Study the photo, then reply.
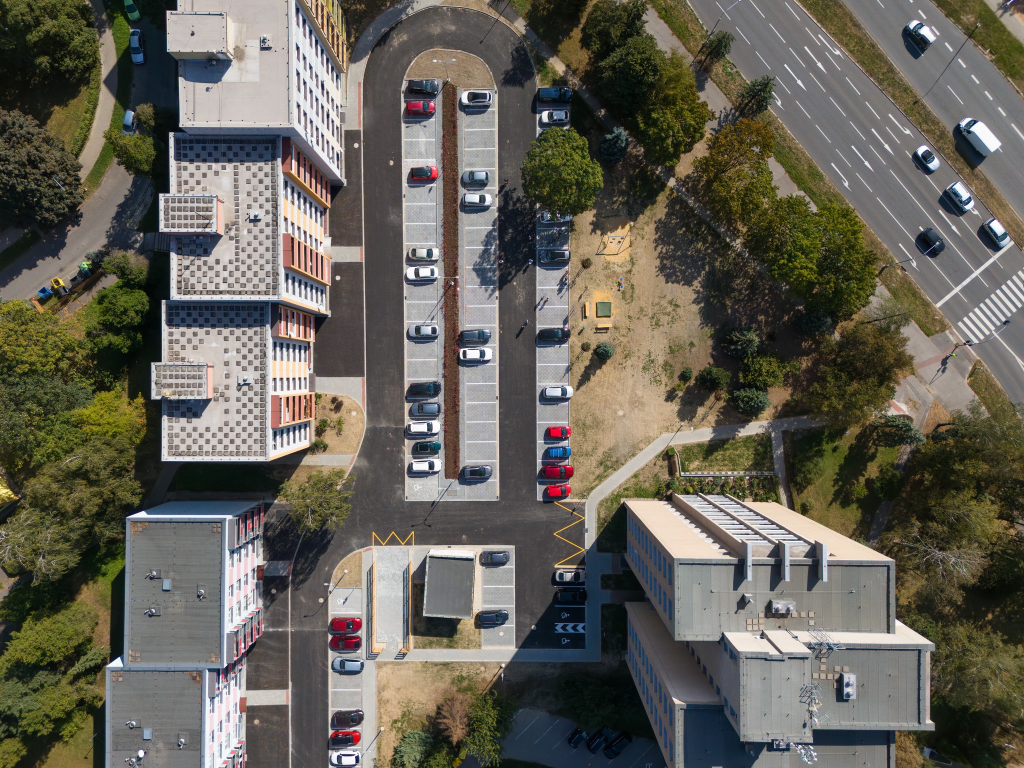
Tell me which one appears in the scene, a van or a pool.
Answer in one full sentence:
There is a van in the scene.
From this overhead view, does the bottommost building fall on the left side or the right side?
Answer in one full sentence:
It is on the left.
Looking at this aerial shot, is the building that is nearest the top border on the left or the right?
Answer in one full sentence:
It is on the left.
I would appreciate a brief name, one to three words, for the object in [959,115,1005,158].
van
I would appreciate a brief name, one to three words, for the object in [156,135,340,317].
building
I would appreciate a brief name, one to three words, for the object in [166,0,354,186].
building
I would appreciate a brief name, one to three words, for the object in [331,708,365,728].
car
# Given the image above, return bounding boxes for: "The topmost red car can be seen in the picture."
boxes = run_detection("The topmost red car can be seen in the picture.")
[405,98,436,117]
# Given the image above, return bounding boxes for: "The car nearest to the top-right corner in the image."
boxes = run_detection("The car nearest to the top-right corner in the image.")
[904,18,938,51]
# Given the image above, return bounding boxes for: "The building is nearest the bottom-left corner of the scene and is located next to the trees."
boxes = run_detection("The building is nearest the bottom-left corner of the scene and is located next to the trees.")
[102,650,248,768]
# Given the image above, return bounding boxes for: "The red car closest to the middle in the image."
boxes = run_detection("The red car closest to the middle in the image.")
[546,424,572,440]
